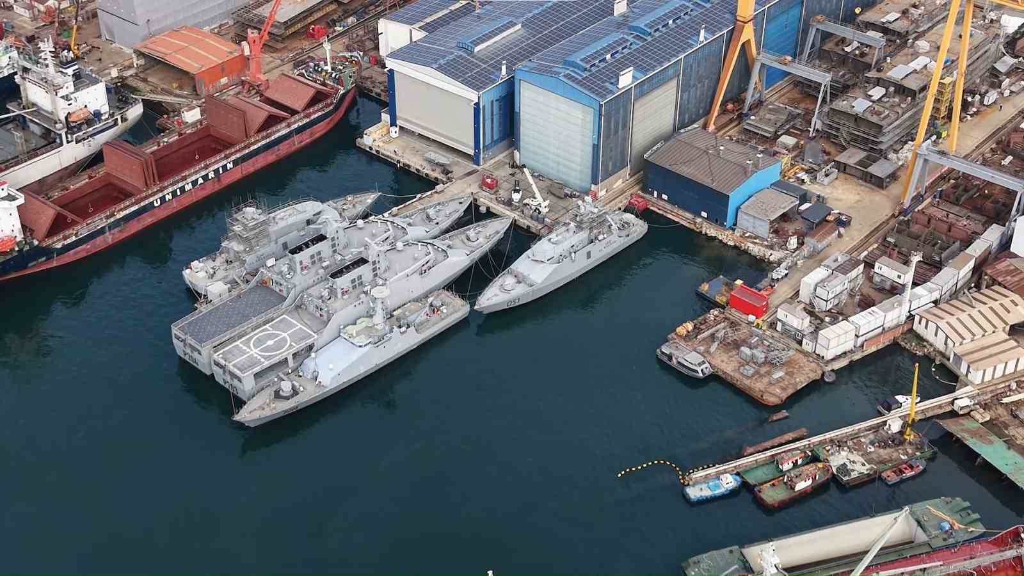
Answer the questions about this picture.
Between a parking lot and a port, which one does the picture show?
port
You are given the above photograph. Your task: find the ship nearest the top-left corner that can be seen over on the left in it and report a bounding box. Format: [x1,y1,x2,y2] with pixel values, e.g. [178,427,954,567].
[0,48,29,102]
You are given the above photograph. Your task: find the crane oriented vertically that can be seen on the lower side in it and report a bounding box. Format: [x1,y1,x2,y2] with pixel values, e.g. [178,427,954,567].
[897,361,929,447]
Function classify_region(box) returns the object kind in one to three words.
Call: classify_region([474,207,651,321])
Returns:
vessel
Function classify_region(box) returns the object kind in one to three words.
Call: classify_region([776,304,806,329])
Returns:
building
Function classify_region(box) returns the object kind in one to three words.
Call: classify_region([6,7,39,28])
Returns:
house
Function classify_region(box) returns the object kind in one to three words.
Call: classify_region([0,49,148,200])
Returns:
ship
